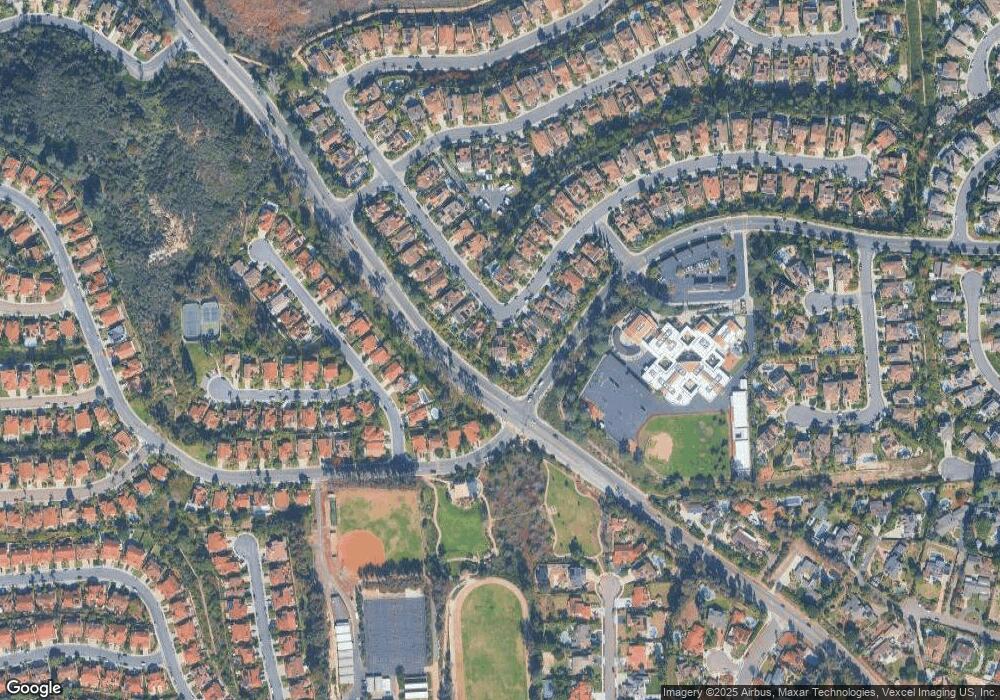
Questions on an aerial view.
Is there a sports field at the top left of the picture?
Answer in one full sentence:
No, looking at the top left of the picture, there is no sports field.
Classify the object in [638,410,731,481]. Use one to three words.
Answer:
sports field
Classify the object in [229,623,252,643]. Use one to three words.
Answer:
house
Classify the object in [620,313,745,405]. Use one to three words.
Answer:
building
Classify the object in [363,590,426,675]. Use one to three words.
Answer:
sports court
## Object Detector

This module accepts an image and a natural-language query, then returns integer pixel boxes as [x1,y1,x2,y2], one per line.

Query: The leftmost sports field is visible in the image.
[322,487,421,592]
